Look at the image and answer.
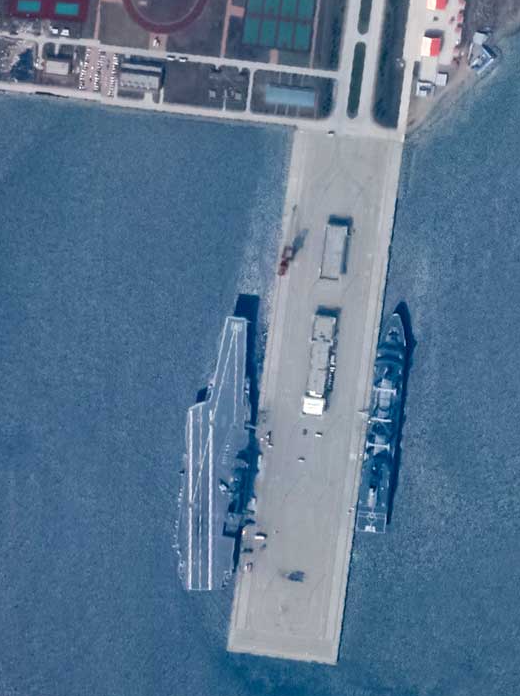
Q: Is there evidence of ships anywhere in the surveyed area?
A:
Yes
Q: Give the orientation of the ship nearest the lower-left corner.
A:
up and down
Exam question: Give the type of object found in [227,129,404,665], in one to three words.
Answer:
pier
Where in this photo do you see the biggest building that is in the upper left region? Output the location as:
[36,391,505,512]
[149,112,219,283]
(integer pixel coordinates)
[119,62,161,93]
